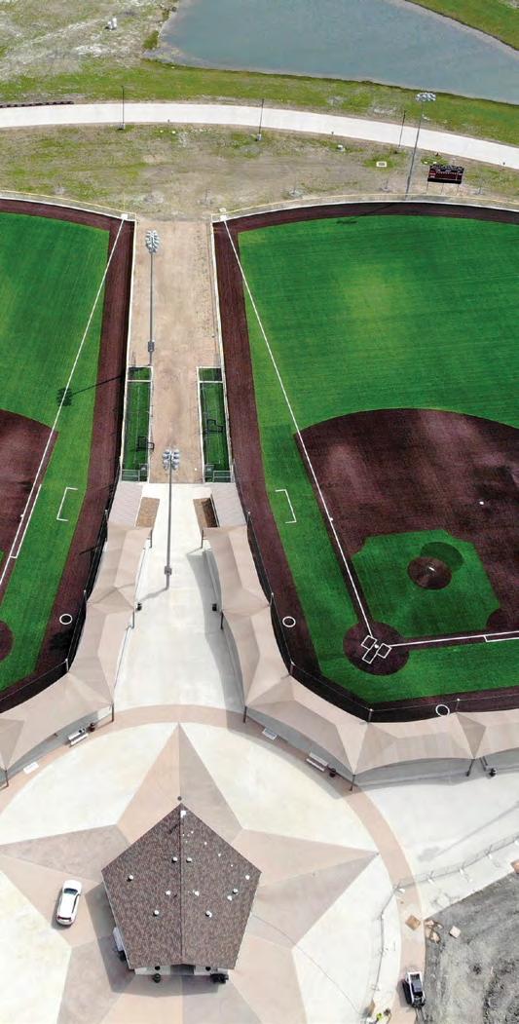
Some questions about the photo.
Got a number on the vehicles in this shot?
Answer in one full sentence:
The count of vehicles comes to 2.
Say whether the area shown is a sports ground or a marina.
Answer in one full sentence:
What you see here is a sports ground.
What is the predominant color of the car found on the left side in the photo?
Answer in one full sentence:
The car found on the left side looks white in the image.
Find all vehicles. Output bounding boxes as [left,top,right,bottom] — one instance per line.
[53,874,83,926]
[400,966,427,1022]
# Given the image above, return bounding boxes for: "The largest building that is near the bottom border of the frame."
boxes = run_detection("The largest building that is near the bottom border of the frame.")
[102,802,260,983]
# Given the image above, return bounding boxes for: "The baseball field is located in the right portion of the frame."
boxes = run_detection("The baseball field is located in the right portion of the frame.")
[214,202,519,720]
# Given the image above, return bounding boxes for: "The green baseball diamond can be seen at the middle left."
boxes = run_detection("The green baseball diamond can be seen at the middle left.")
[0,199,133,699]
